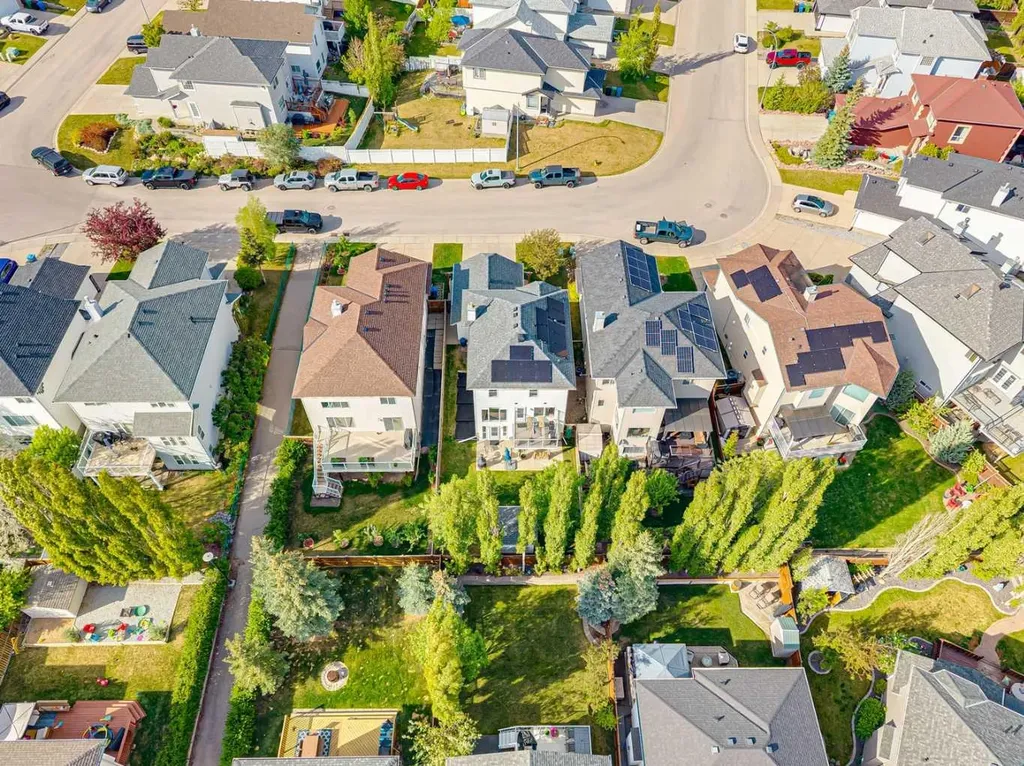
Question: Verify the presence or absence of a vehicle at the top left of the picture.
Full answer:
Yes, the scene does show a vehicle at the top left of the picture.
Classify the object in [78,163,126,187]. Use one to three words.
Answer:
car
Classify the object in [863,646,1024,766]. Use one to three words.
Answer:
house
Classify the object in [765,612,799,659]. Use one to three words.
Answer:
shed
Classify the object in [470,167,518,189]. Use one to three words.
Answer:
truck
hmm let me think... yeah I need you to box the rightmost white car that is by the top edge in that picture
[734,33,751,53]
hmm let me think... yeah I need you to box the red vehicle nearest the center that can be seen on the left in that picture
[386,172,429,191]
